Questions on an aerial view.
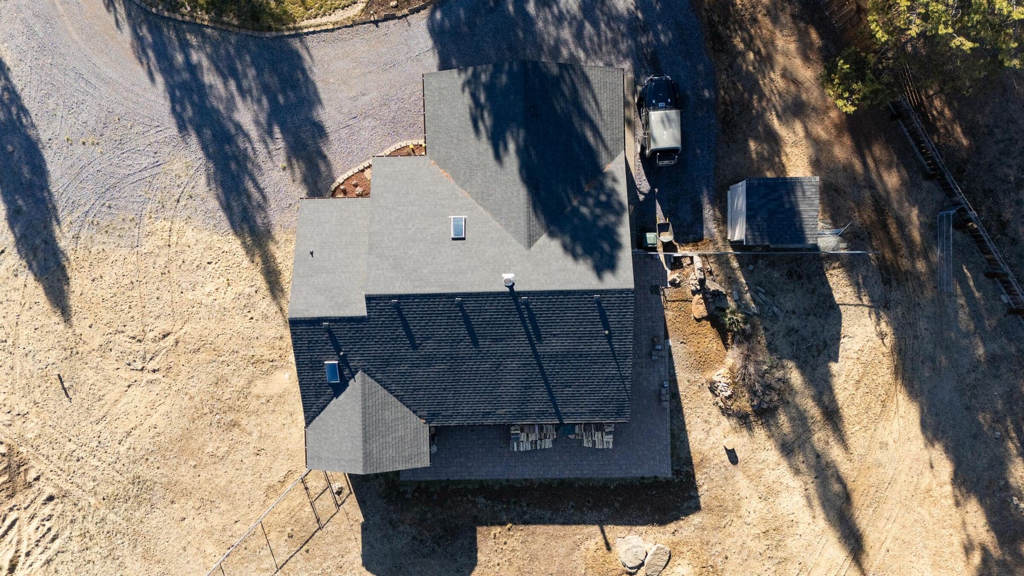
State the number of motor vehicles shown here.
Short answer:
one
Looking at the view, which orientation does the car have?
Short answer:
up and down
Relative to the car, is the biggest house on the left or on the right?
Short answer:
on the left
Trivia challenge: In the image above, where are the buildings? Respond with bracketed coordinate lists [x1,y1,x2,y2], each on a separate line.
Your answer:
[726,178,821,248]
[288,58,636,475]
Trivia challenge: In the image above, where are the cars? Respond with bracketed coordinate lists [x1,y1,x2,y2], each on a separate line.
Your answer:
[636,71,683,164]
